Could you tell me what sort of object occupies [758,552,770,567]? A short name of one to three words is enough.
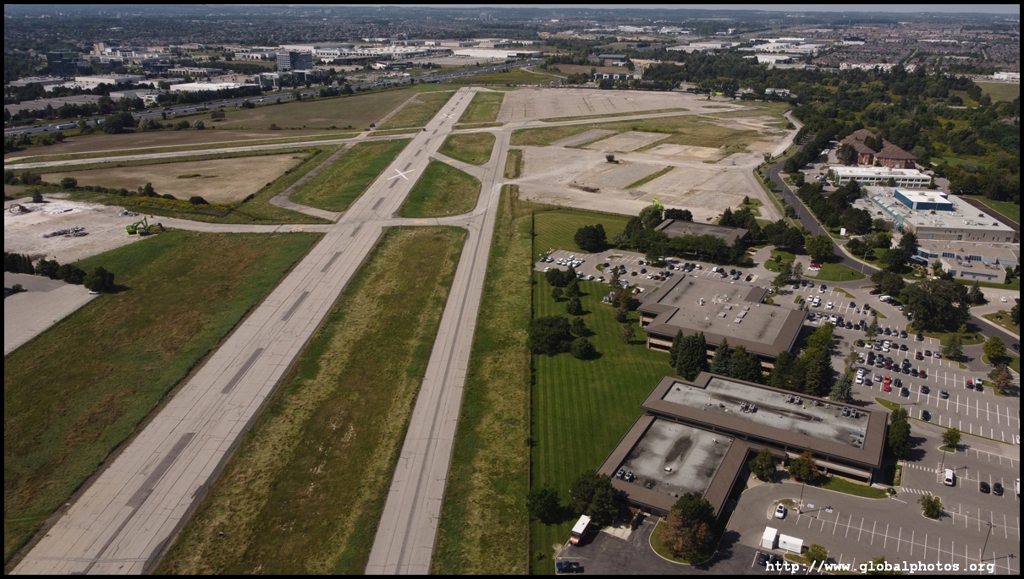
vehicle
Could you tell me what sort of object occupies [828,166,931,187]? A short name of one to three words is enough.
building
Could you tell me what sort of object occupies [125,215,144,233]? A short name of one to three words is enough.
work vehicle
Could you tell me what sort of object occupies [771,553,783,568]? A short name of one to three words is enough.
vehicle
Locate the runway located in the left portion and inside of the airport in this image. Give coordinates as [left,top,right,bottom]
[6,87,480,579]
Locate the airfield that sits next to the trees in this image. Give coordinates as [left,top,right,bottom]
[0,87,793,579]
